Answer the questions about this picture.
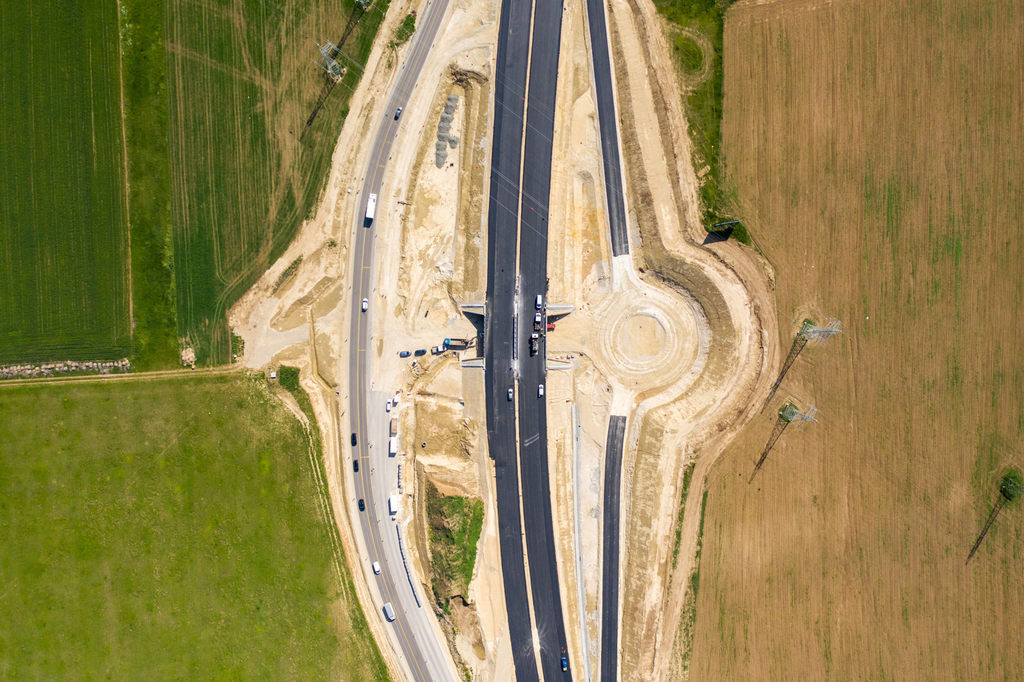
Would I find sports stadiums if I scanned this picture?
No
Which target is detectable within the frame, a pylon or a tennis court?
pylon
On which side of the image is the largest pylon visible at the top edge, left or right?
left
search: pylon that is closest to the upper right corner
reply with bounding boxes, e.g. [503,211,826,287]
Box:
[797,313,851,349]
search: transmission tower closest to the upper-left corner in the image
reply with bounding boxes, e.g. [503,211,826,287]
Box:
[309,34,346,80]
